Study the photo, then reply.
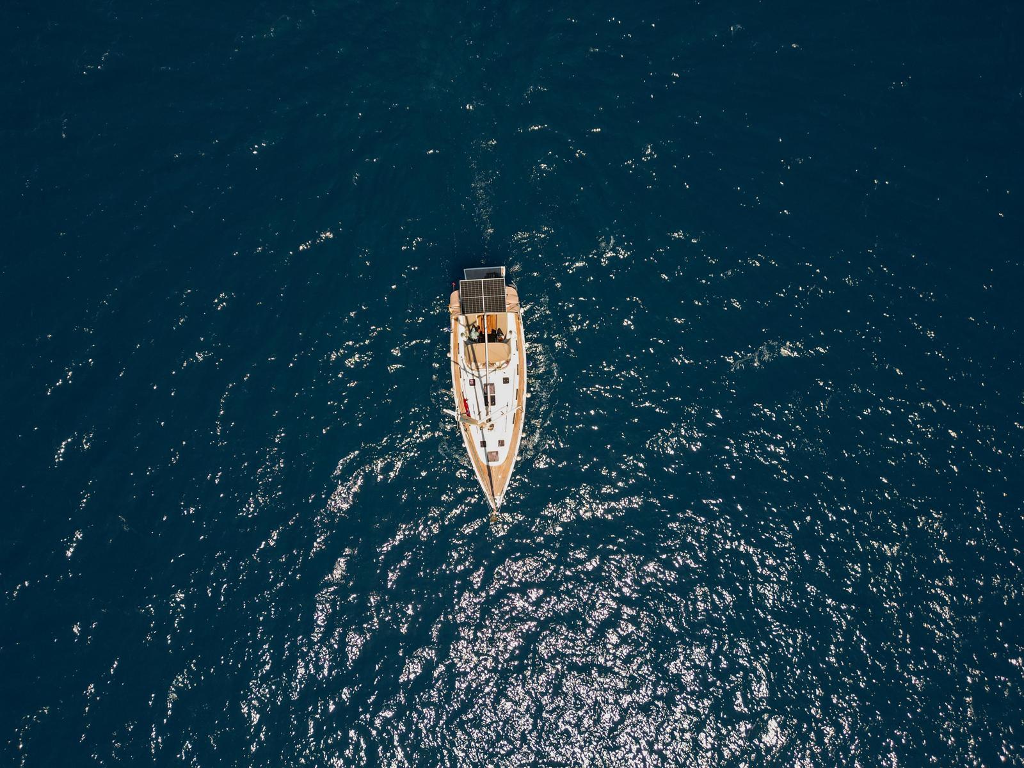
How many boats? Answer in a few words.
one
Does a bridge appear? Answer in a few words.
No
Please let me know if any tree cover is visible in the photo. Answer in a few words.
No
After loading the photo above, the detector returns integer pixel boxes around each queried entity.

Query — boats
[442,267,527,514]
